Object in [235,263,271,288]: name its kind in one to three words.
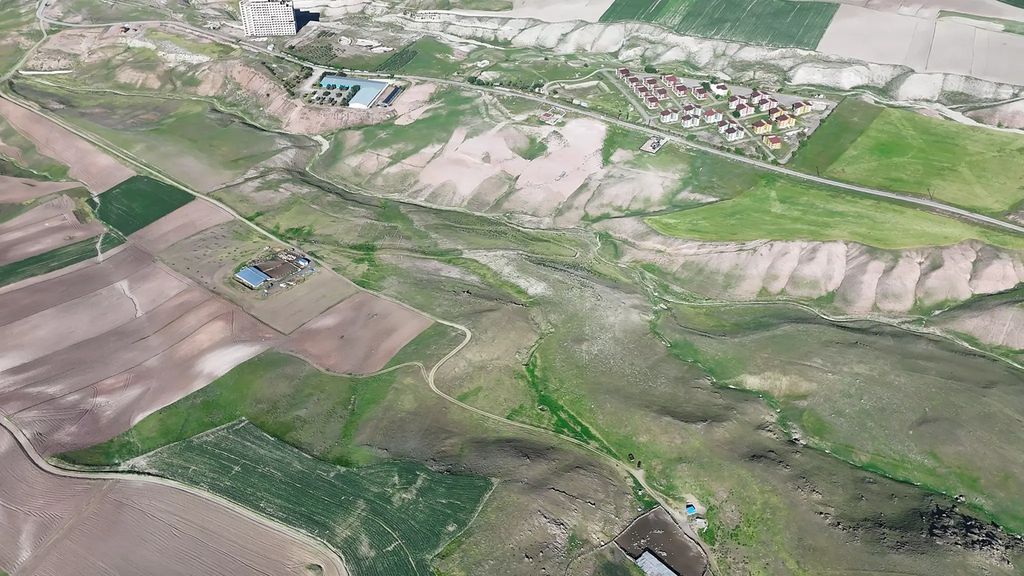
barn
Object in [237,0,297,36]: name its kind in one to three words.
building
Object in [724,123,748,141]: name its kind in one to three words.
house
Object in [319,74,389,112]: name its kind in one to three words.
building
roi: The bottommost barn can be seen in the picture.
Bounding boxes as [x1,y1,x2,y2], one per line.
[635,548,676,576]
